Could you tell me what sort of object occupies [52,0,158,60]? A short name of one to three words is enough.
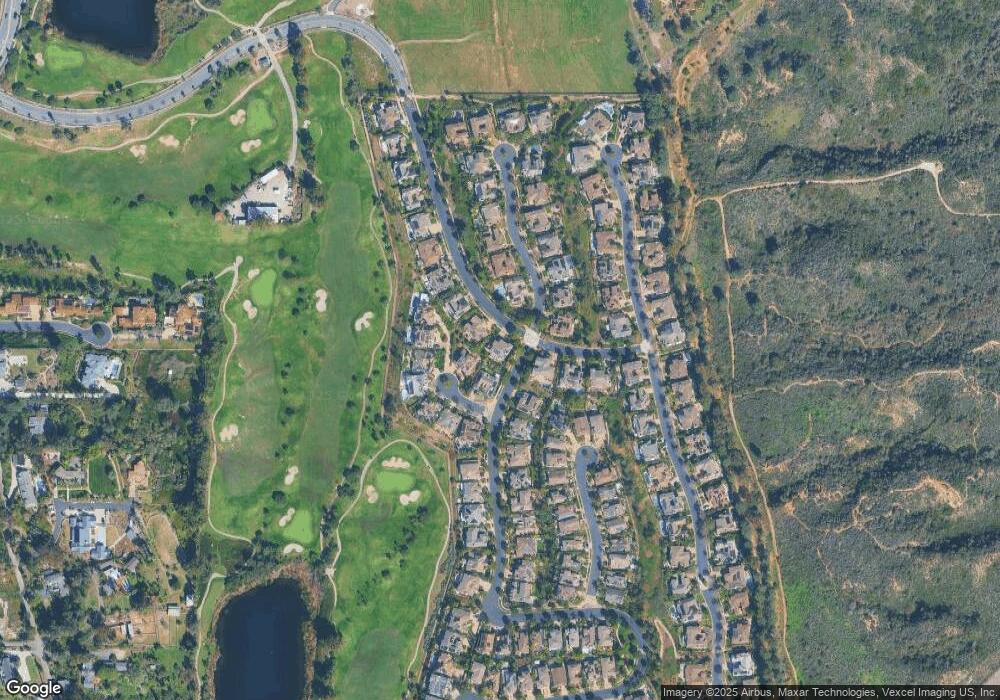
pond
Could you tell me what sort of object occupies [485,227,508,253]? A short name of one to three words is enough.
house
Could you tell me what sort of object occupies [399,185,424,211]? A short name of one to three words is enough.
house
